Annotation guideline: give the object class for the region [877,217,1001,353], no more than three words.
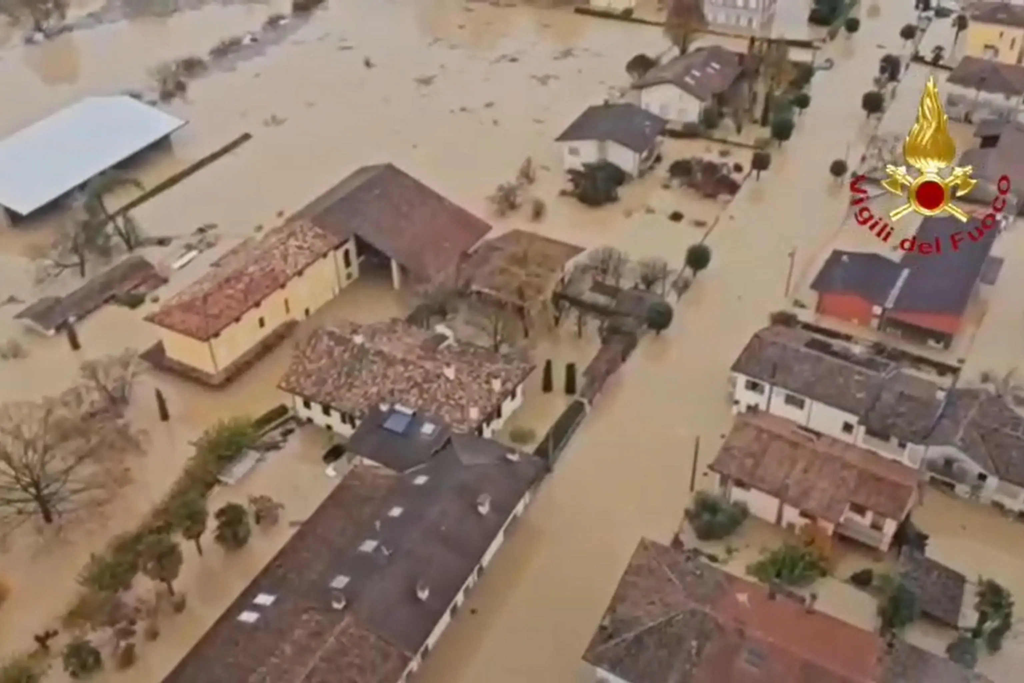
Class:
building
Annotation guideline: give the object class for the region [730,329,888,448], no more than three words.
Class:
house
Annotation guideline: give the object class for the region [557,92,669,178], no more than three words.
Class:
house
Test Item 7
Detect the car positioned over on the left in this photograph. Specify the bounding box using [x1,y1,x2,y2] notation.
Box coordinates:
[314,445,349,471]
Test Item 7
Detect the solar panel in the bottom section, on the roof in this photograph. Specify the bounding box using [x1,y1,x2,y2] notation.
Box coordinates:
[379,396,420,437]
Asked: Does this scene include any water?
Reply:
Yes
